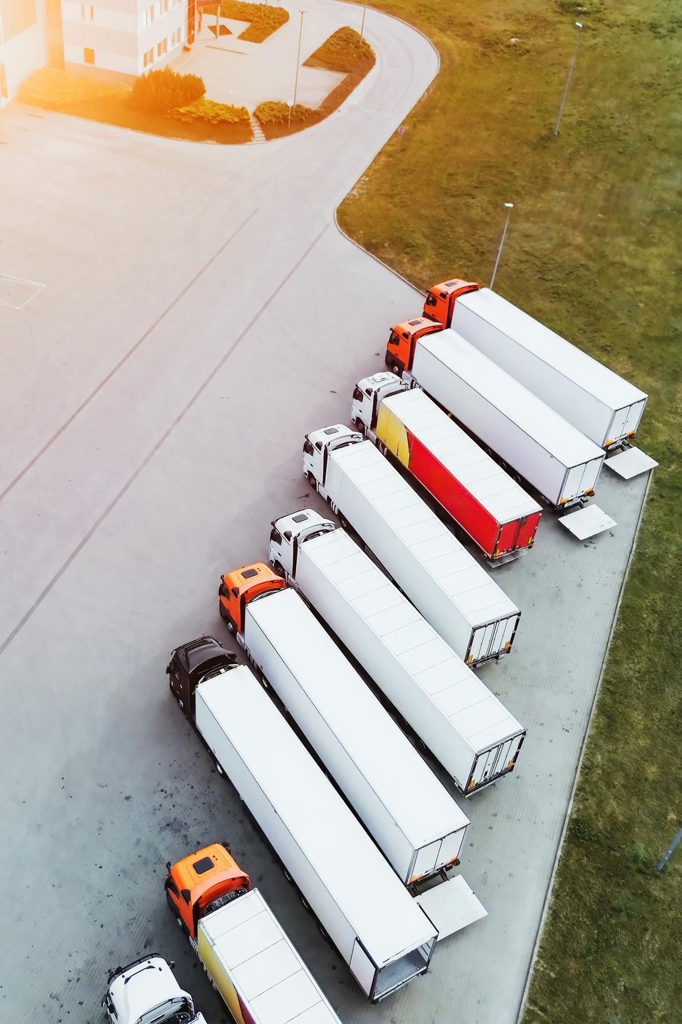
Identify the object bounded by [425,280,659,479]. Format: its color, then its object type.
white truck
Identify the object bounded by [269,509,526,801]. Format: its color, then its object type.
white truck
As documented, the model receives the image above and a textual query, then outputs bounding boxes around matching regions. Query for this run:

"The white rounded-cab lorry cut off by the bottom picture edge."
[97,958,206,1024]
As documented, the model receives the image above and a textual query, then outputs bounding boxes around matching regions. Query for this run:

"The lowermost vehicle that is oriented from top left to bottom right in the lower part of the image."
[161,844,347,1024]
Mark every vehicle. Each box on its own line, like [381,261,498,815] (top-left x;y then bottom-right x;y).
[303,426,521,671]
[218,566,488,941]
[353,376,543,572]
[167,638,441,1009]
[269,509,526,801]
[387,320,616,541]
[425,280,659,479]
[97,958,206,1024]
[161,844,347,1024]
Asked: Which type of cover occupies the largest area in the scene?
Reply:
paved ground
